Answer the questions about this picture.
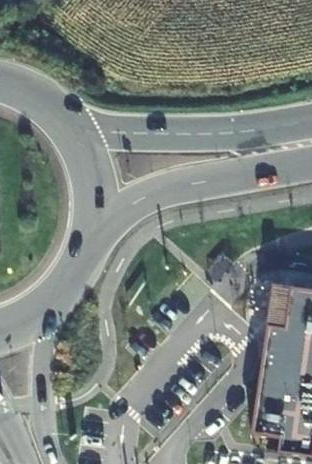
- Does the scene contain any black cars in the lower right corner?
Yes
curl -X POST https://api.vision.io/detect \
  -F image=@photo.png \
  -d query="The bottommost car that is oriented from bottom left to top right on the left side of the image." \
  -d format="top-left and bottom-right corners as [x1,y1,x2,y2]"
[107,401,128,419]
